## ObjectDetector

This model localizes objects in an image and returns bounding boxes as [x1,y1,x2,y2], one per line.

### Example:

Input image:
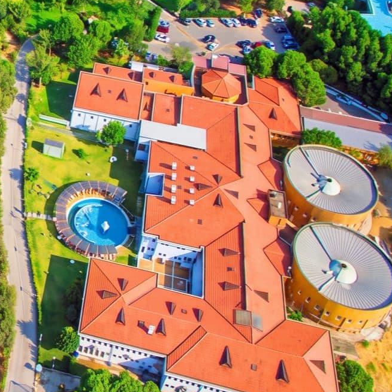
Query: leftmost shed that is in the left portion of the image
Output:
[42,138,65,165]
